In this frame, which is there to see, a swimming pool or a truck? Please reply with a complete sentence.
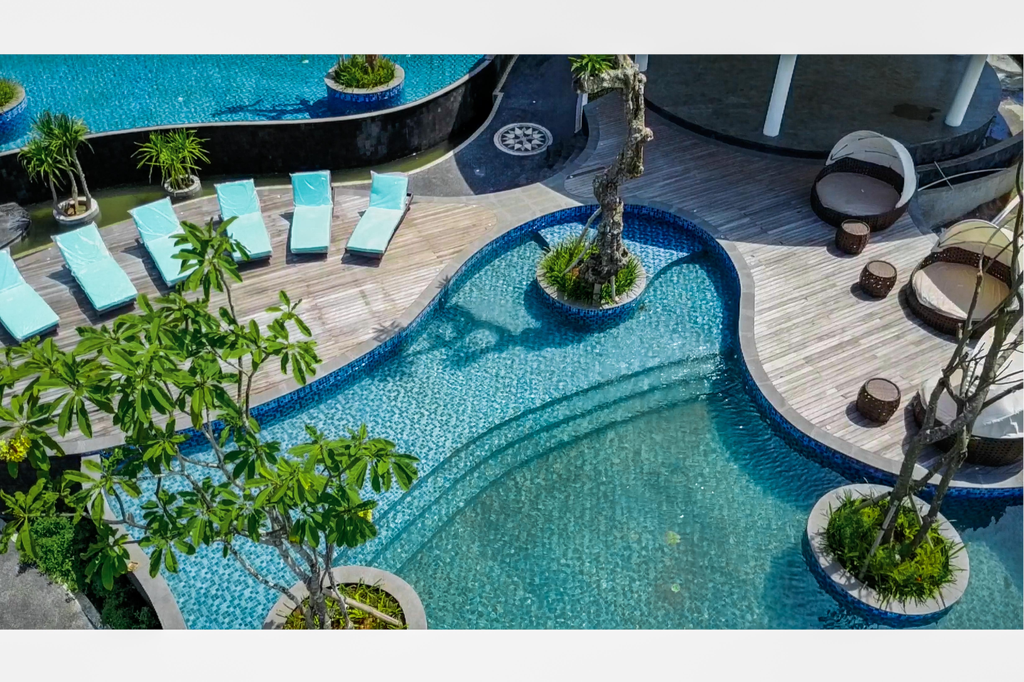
Of the two, only a swimming pool appears.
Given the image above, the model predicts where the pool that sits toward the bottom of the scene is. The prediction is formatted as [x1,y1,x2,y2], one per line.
[105,214,1024,682]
